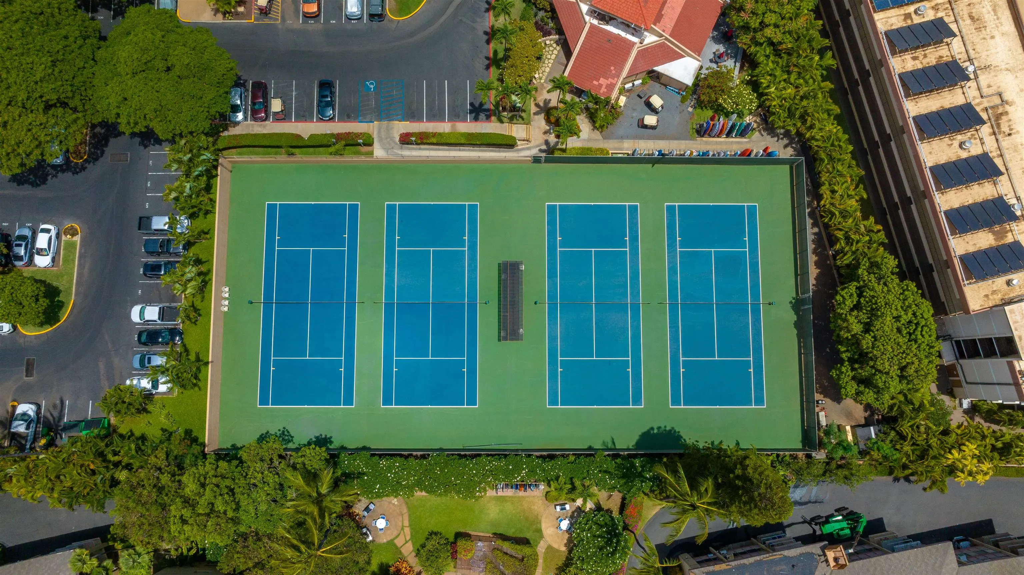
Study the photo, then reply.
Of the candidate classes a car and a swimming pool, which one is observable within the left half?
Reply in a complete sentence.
The one visible within the left half is a car.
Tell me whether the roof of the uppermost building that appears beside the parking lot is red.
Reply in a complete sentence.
Yes, the roof of the uppermost building that appears beside the parking lot is red.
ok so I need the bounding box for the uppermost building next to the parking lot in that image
[552,0,723,102]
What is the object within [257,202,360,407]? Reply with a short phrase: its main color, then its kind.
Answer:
blue tennis court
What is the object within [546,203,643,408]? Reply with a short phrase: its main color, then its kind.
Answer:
blue tennis court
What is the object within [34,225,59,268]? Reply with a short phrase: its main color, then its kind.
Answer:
white car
